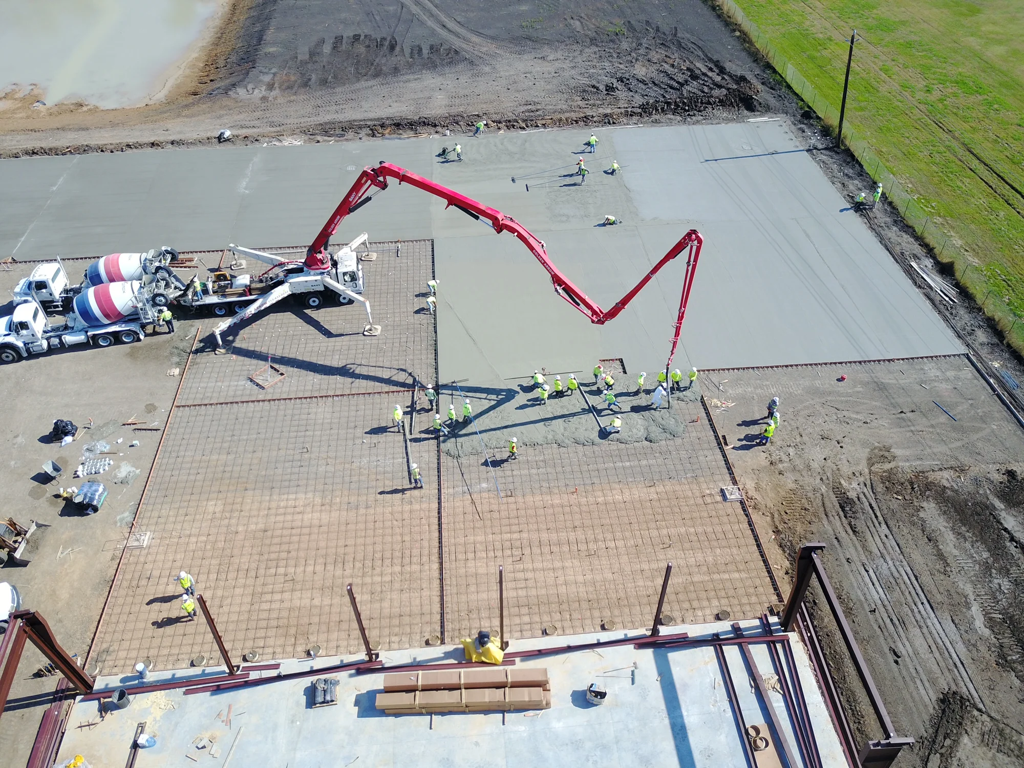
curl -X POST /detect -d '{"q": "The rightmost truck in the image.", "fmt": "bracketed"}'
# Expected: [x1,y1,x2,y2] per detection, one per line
[176,158,705,407]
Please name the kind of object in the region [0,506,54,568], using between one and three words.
work vehicle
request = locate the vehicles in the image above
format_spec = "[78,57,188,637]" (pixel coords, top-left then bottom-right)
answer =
[0,268,194,362]
[0,506,54,568]
[176,158,705,407]
[0,579,29,624]
[0,243,199,318]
